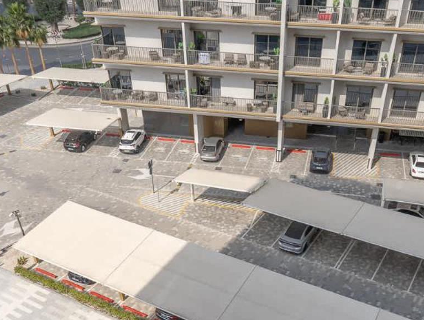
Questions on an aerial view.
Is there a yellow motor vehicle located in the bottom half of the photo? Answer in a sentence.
No, no yellow motor vehicle is visible in the bottom half of the photo.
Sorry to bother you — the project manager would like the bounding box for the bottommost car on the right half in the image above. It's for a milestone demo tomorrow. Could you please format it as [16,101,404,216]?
[279,222,326,253]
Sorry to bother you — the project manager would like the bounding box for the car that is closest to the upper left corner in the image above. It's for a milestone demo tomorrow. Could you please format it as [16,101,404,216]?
[61,128,96,150]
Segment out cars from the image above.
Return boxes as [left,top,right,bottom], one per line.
[61,128,96,150]
[68,272,97,286]
[159,310,181,320]
[311,143,336,172]
[408,148,424,177]
[196,134,227,161]
[117,129,145,154]
[279,222,326,253]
